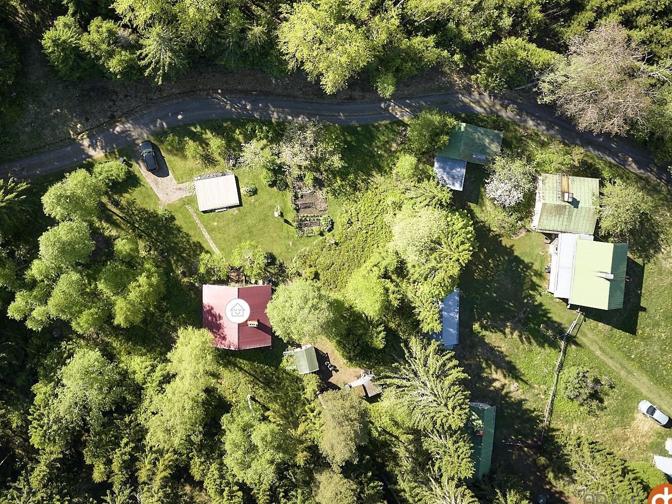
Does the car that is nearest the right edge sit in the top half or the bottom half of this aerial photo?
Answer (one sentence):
The car that is nearest the right edge sits in the bottom half of the picture.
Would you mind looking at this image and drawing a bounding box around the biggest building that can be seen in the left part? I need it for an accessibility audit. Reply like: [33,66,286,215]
[203,284,271,350]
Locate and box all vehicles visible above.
[139,140,157,173]
[640,401,671,427]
